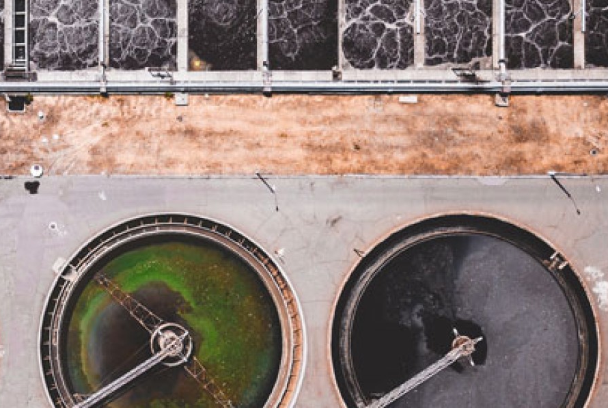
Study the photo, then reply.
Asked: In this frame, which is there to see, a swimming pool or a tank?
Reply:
tank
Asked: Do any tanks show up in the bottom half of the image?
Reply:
Yes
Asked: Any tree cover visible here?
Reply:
No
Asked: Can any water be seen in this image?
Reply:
Yes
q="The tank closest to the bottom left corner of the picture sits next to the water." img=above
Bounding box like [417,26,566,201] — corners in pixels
[39,214,306,408]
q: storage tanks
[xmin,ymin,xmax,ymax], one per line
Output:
[39,214,306,408]
[331,213,599,408]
